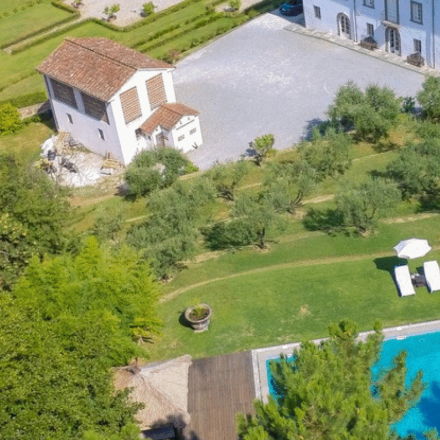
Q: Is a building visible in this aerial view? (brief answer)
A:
Yes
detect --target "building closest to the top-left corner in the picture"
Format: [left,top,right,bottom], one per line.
[35,36,204,164]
